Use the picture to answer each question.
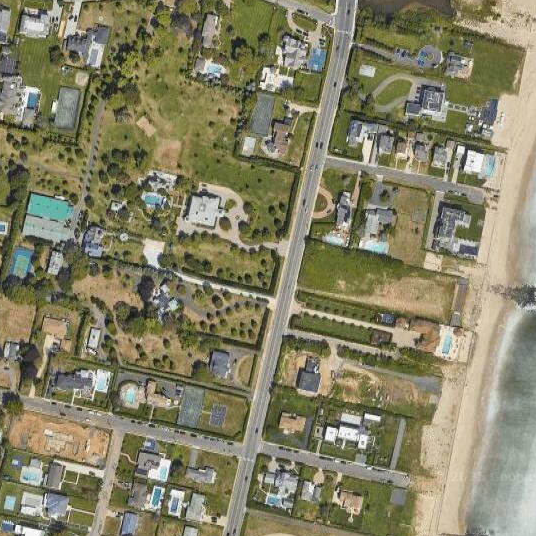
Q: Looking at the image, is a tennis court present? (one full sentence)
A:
Yes, you can see a tennis court in this photo.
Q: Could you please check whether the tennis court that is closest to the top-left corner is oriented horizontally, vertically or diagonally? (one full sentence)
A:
The tennis court that is closest to the top-left corner is laid out vertically.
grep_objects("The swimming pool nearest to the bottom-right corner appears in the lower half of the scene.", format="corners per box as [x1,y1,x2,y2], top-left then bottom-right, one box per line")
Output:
[434,325,469,360]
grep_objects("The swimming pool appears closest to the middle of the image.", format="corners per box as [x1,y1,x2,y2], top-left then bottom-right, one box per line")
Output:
[322,228,348,244]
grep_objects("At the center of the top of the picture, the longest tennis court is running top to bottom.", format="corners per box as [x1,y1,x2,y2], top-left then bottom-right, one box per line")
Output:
[251,92,274,135]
